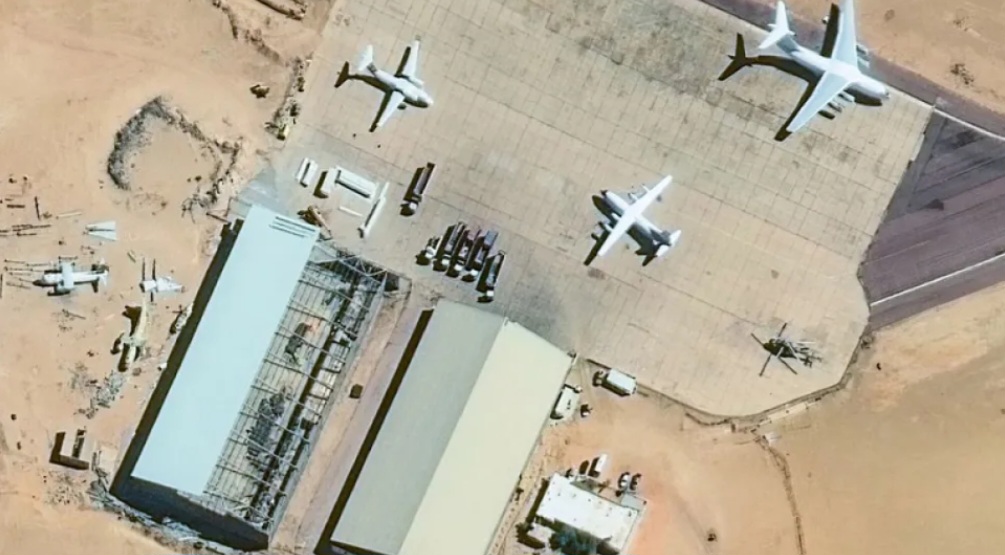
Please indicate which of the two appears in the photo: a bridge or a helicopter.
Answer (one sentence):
Visible in the photo is a helicopter.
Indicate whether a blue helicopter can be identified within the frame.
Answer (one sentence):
No, this view has no blue helicopter in it.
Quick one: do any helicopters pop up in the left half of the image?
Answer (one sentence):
No, no helicopter can be made out in the left half of the image.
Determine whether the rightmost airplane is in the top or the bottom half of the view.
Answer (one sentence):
The rightmost airplane is in the top half of the image.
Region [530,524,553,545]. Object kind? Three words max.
shed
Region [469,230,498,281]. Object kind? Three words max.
truck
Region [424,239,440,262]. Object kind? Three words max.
vehicle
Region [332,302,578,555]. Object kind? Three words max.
hangar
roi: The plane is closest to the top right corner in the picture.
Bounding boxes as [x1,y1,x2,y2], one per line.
[759,0,887,128]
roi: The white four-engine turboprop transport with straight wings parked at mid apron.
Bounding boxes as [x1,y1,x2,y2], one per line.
[591,172,683,257]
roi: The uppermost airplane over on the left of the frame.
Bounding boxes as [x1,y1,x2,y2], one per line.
[356,40,433,130]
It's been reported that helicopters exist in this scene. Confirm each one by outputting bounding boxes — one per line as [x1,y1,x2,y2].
[761,318,819,376]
